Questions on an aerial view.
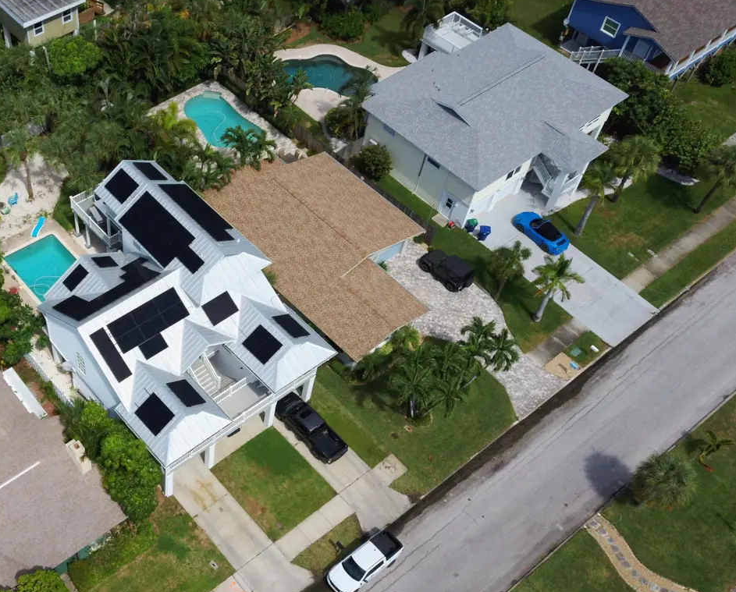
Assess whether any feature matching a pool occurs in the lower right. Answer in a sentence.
No, there is no pool in the lower right.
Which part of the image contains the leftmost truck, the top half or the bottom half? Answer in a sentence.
Seen from above, the leftmost truck lies in the bottom half of the view.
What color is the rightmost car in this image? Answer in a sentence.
The rightmost car looks blue in the image.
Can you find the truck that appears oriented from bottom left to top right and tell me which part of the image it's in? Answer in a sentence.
The truck that appears oriented from bottom left to top right sits in the bottom section of the image.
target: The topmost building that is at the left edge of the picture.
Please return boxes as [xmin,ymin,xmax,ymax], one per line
[0,0,99,69]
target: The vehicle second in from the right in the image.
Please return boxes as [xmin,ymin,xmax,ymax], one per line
[417,251,473,290]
